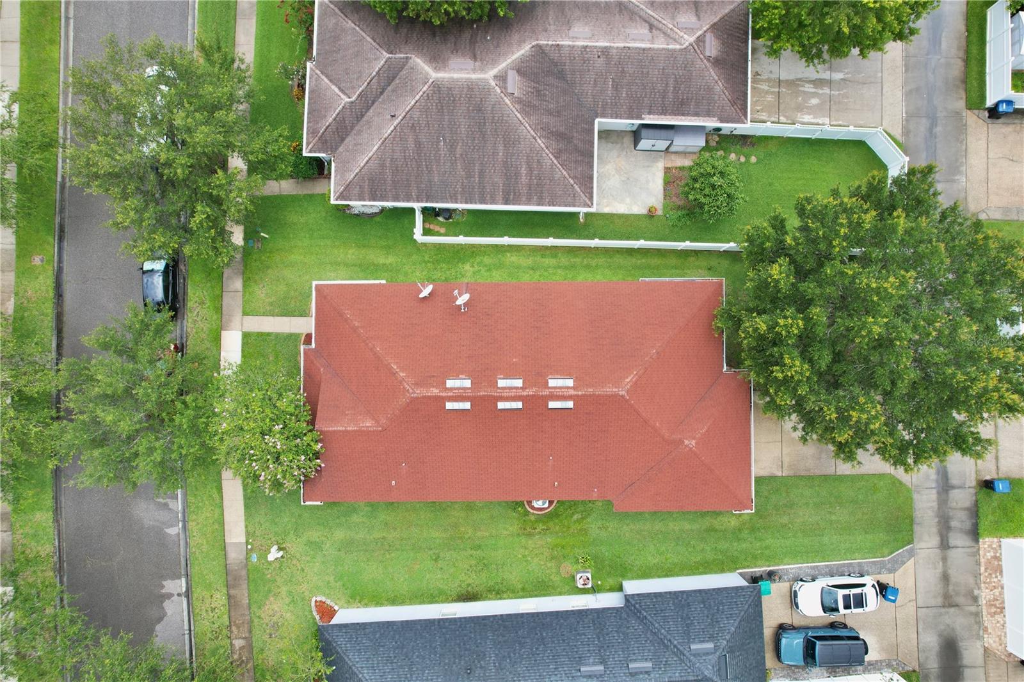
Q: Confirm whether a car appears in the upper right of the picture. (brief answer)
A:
No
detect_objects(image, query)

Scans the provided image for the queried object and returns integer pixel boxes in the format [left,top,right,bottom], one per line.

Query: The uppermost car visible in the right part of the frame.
[790,574,881,621]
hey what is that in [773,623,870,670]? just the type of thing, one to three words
car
